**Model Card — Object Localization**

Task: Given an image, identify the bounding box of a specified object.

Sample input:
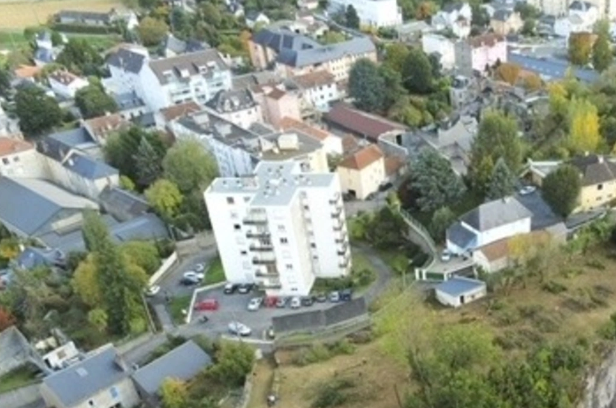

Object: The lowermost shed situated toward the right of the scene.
[436,275,480,311]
